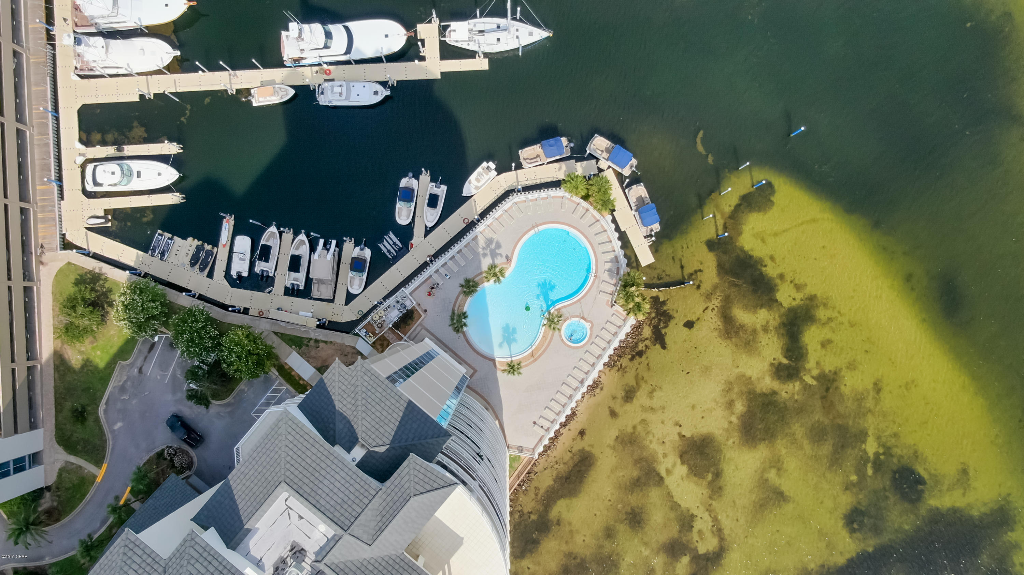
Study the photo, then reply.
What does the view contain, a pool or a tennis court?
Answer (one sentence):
I can see a pool in this picture.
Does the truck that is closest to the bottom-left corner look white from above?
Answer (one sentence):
No, the color of the truck that is closest to the bottom-left corner is black.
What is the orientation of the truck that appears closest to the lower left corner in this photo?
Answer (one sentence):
The truck that appears closest to the lower left corner is oriented diagonally.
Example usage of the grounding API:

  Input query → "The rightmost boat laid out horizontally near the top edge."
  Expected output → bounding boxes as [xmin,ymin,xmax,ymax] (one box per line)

[435,0,553,51]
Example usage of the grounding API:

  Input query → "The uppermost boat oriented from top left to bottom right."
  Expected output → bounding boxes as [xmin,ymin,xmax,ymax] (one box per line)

[587,136,641,177]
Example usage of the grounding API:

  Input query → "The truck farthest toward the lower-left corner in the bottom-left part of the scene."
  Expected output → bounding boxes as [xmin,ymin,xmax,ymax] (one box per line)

[164,412,206,450]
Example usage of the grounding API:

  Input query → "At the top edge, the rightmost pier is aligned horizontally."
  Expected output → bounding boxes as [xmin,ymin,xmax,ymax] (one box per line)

[74,24,488,109]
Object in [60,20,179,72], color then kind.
white boat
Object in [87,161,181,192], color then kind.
white boat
